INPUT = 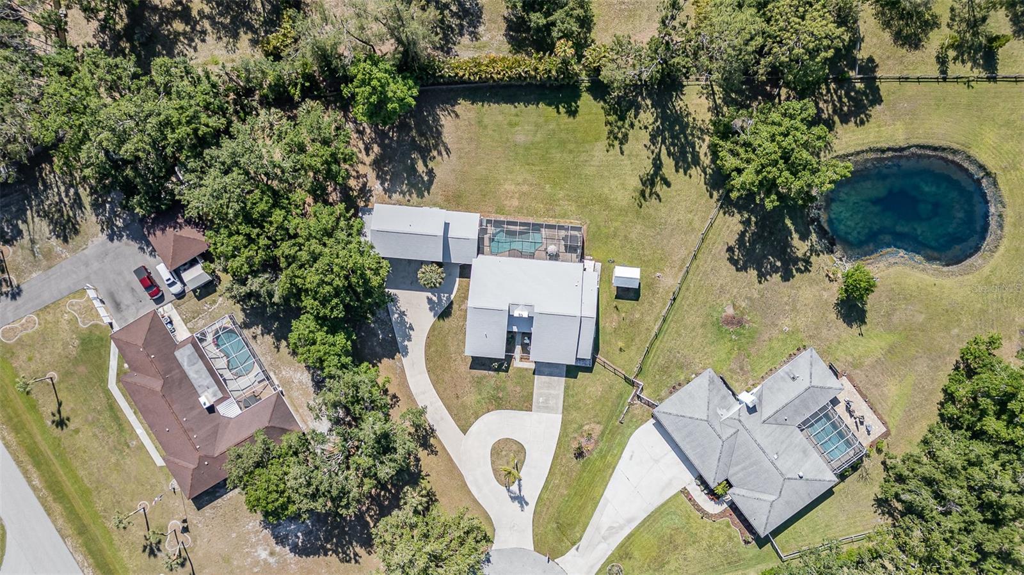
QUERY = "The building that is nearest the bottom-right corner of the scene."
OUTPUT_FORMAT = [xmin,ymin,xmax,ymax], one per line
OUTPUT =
[652,347,844,537]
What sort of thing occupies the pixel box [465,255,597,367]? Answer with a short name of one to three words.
house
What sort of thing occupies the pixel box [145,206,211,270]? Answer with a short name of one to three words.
building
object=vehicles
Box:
[154,263,185,296]
[133,264,164,301]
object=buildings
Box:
[613,266,642,288]
[652,347,844,537]
[110,309,305,499]
[369,204,480,264]
[182,264,213,290]
[145,206,211,270]
[465,255,597,367]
